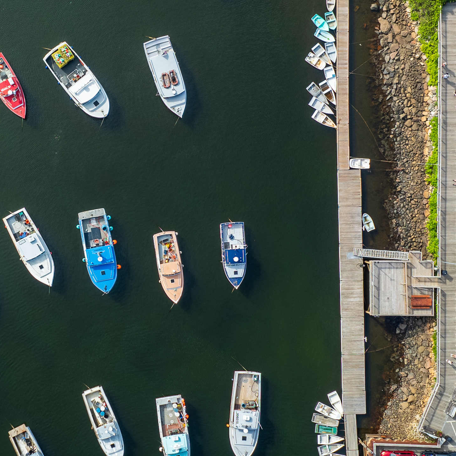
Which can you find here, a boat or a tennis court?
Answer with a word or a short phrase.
boat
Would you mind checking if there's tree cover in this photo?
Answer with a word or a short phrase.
No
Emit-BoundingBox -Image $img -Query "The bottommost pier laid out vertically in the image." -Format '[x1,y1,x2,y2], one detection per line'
[343,415,358,450]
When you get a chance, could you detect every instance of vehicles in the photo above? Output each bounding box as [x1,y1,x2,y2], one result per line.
[380,450,416,456]
[419,449,456,456]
